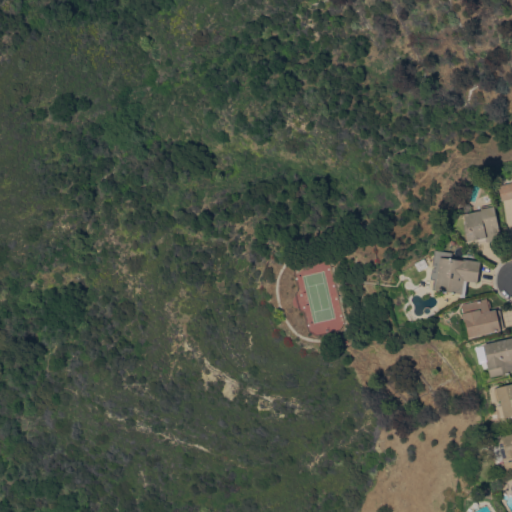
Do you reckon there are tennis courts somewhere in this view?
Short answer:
Yes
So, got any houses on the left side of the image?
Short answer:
No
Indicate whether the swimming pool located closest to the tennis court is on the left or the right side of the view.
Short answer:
right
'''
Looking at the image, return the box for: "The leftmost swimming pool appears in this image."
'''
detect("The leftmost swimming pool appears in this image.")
[412,295,437,316]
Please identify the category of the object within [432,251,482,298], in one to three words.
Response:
house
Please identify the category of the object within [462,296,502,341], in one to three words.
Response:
house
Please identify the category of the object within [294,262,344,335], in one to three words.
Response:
tennis court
